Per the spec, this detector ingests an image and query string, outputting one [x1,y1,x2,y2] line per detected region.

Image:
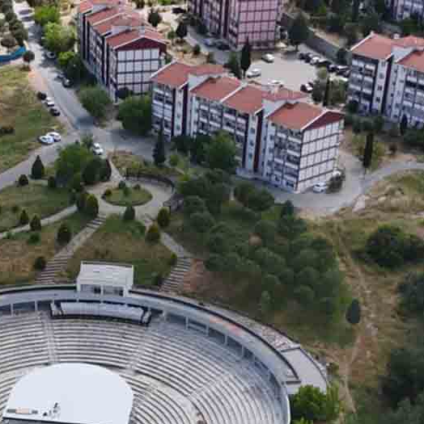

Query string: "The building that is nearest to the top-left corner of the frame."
[79,0,178,103]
